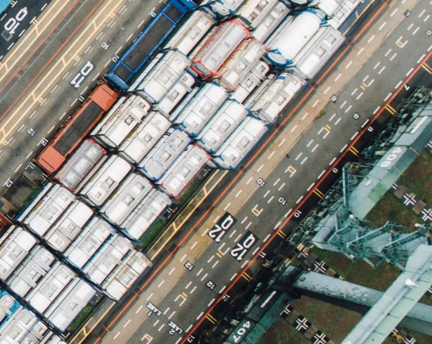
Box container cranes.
[286,65,432,272]
[191,252,432,344]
